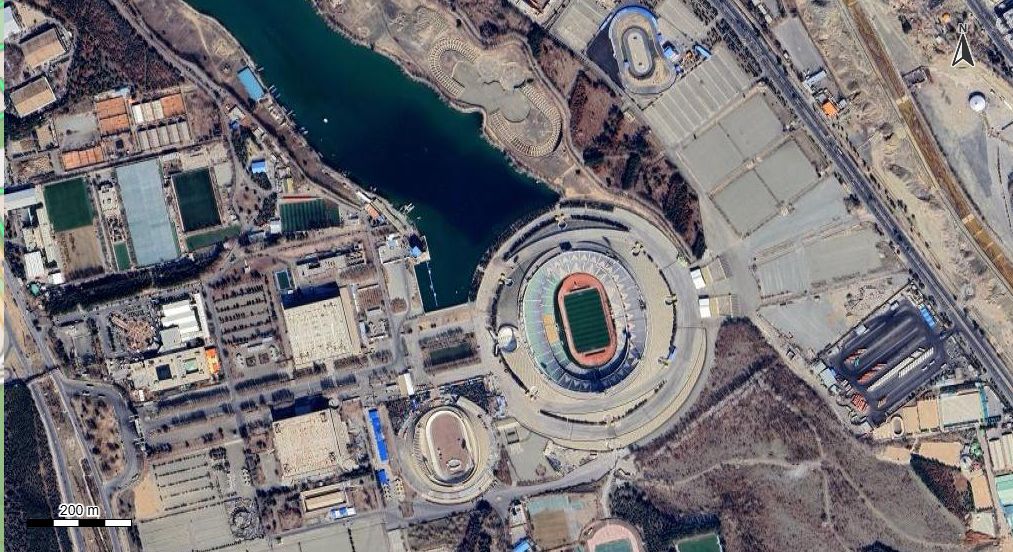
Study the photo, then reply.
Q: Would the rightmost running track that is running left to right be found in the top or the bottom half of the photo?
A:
bottom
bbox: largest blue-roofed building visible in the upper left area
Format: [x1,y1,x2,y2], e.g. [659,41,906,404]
[238,67,264,100]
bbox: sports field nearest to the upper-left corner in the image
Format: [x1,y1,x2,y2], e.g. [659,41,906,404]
[45,178,93,231]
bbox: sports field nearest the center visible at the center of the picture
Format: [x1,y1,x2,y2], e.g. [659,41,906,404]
[564,288,609,352]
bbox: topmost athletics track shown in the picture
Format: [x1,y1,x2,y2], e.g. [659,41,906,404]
[557,273,618,366]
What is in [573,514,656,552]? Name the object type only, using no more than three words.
running track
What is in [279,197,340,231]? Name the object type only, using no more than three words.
sports field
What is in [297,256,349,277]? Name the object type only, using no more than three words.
building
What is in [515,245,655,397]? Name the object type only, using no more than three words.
stadium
